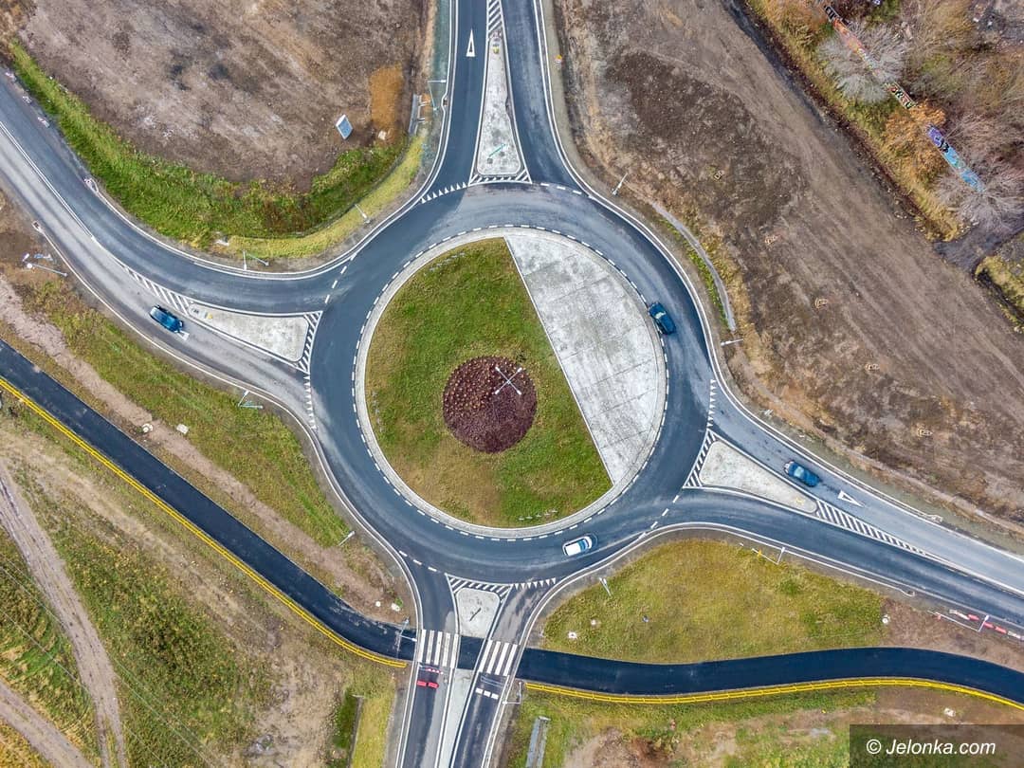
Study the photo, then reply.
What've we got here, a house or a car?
car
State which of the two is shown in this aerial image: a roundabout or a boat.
roundabout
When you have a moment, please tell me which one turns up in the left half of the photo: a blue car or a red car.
blue car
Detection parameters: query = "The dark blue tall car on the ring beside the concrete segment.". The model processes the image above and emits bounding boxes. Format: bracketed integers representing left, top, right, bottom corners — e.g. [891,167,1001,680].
[648,299,678,337]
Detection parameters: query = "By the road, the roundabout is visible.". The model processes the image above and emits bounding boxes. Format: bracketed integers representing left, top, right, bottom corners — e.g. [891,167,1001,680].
[303,180,718,590]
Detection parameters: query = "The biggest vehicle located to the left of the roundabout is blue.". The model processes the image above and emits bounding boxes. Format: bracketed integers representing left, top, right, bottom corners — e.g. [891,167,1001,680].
[148,305,184,331]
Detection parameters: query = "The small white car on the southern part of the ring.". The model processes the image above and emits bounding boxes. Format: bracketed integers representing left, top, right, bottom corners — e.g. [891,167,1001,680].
[564,535,594,557]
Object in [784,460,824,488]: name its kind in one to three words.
car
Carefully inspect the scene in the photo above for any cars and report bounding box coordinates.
[564,535,594,557]
[784,460,824,488]
[148,305,184,331]
[648,299,678,337]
